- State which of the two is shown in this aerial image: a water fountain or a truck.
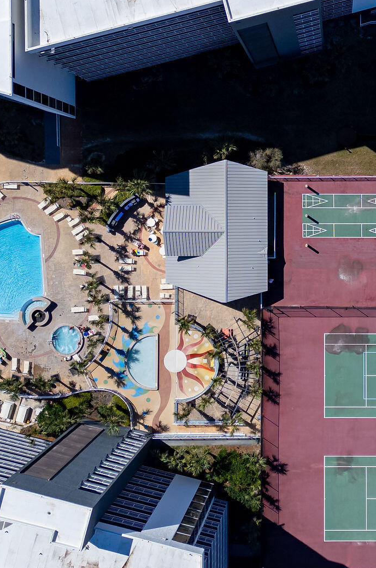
water fountain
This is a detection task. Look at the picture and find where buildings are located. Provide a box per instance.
[162,160,275,302]
[0,427,227,568]
[0,0,376,118]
